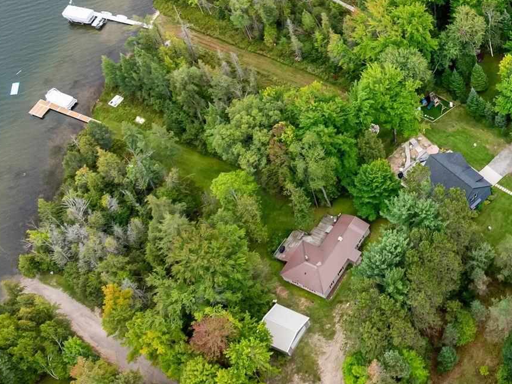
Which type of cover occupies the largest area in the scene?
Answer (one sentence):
What you mostly see from above here is trees.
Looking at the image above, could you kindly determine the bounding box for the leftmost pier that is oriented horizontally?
[30,100,101,123]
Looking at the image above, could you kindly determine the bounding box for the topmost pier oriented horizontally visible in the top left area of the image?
[92,9,159,28]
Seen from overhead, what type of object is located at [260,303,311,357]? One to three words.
shed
